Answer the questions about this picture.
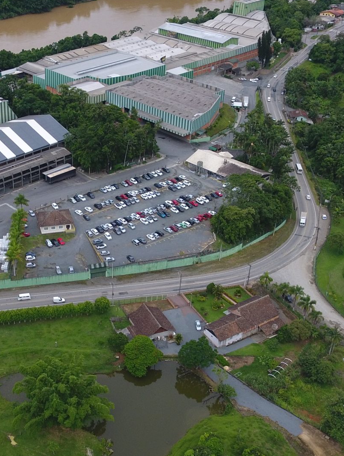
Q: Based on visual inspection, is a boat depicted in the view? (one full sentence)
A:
No, no boat can be seen from above.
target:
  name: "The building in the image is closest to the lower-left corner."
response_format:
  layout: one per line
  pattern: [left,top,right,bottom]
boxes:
[125,303,178,347]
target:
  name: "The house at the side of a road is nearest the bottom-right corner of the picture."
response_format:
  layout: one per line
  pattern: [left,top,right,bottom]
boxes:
[200,291,287,354]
